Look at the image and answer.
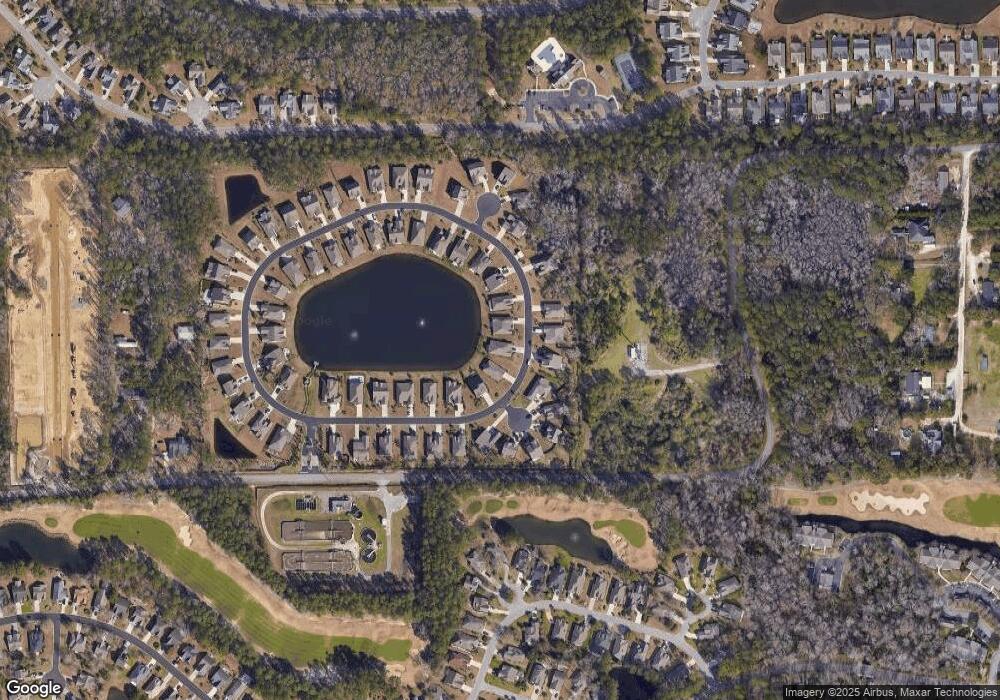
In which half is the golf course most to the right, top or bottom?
bottom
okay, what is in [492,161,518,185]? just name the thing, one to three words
house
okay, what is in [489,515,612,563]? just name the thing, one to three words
pond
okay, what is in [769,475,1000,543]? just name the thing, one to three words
golf course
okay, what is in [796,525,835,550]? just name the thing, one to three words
building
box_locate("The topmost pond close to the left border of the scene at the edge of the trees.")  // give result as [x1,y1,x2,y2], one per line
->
[0,519,91,577]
